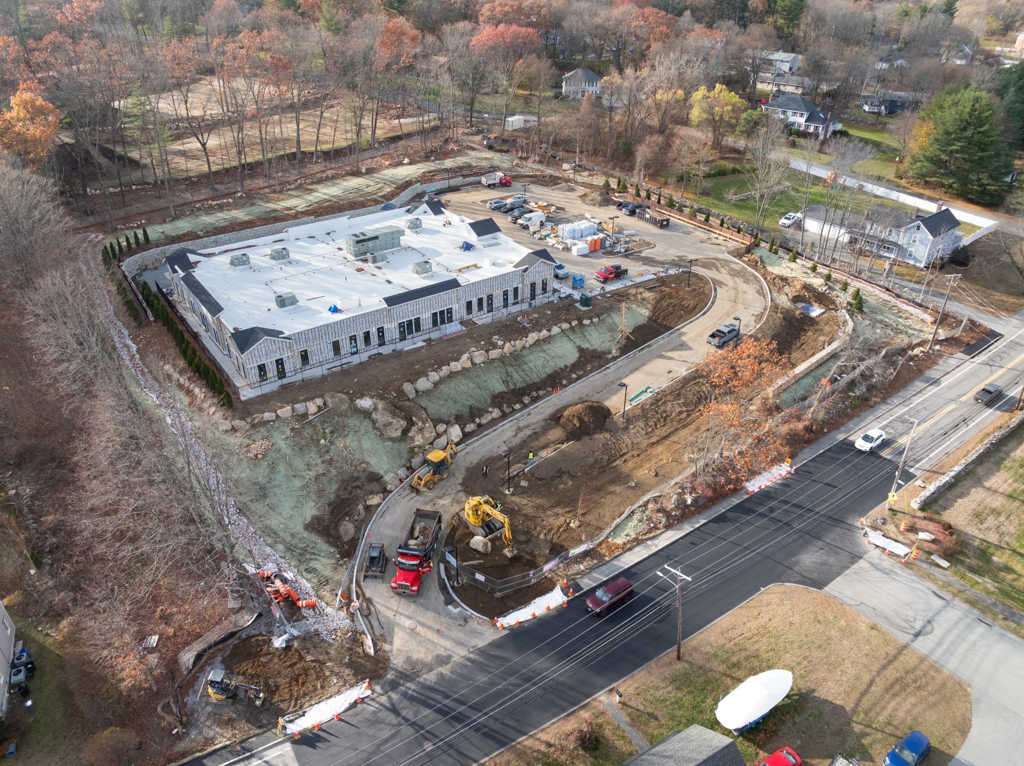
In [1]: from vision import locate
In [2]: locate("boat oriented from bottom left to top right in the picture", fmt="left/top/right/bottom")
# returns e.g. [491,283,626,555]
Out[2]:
[710,672,788,735]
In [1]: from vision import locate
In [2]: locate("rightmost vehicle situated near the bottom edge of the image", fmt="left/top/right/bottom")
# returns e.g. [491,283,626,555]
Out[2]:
[886,716,936,766]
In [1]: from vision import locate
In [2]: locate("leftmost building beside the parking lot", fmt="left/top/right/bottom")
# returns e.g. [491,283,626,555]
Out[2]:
[175,194,559,388]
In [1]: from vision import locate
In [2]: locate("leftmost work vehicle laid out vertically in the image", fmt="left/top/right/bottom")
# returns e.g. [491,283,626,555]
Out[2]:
[362,537,386,582]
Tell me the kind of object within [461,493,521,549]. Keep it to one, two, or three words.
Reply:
work vehicle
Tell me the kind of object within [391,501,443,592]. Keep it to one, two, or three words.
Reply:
truck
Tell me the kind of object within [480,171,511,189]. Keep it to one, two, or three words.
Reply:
vehicle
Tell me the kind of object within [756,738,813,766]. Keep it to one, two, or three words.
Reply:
car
